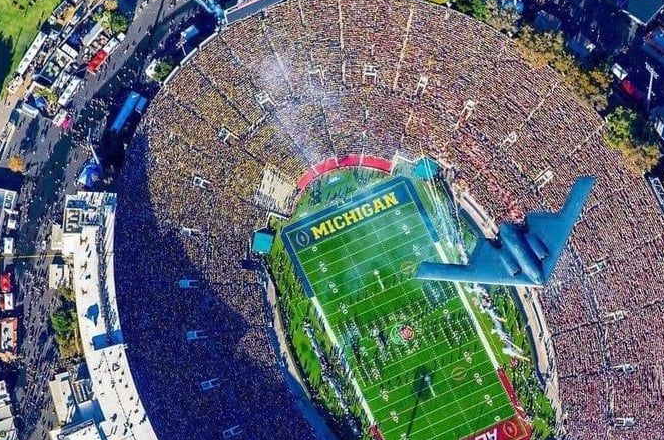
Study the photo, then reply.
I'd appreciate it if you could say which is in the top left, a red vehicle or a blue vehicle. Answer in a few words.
blue vehicle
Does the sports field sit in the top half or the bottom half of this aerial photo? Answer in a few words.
bottom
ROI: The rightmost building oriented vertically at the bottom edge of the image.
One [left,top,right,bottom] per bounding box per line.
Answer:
[51,373,79,428]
